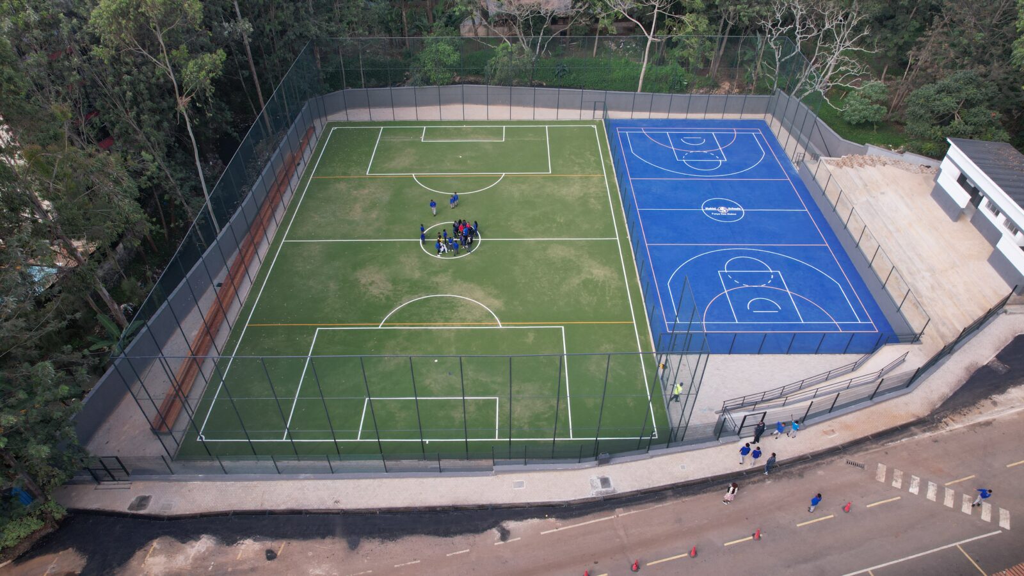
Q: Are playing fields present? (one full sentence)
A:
Yes, I can see a playing field in this picture.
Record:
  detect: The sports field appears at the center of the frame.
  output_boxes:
[174,120,671,459]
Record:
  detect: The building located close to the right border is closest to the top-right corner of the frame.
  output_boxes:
[931,136,1024,295]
